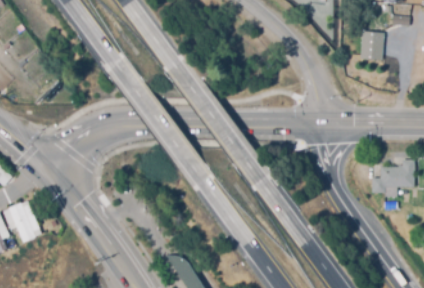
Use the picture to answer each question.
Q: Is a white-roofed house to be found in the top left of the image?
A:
No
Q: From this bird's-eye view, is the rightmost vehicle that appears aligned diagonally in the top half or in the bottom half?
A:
bottom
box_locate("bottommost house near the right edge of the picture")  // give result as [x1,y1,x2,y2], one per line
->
[372,162,416,198]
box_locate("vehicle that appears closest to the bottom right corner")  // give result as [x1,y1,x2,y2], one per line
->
[390,266,410,288]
